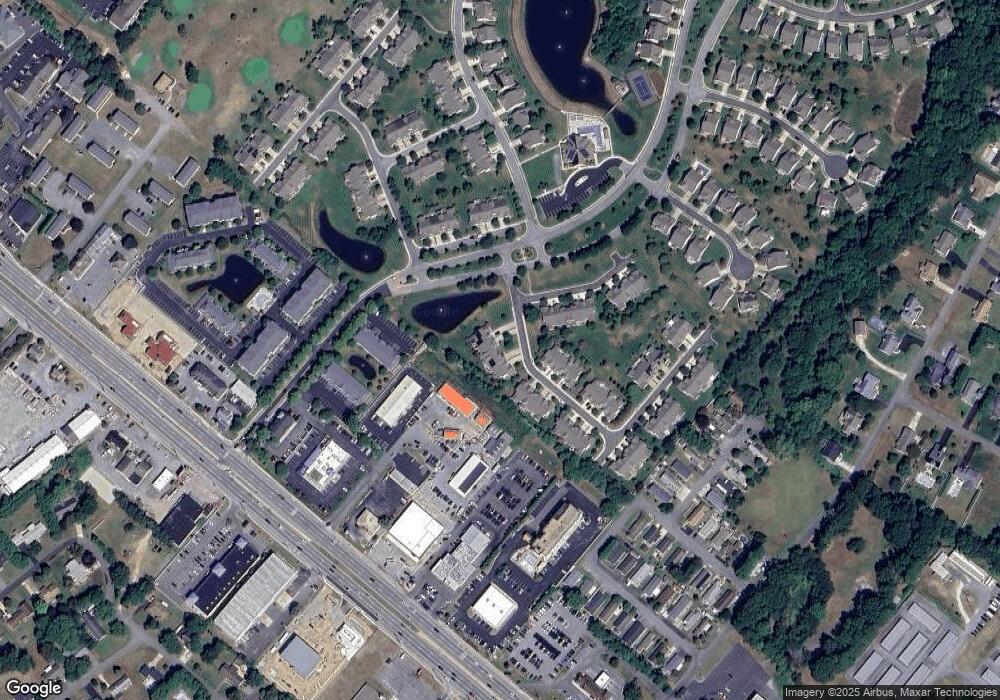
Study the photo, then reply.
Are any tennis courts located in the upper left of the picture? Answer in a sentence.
No, looking in the upper left of the picture, there is no tennis court.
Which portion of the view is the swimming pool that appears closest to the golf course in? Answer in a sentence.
Look in the left portion of the view to spot the swimming pool that appears closest to the golf course.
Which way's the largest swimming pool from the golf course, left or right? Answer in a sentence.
The largest swimming pool is to the right of the golf course.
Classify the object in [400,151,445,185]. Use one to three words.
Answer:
house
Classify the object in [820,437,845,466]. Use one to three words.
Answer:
house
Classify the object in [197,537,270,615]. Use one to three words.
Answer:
building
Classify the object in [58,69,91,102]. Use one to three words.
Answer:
building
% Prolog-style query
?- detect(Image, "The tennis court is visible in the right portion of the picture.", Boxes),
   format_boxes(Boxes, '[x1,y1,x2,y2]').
[624,68,659,108]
